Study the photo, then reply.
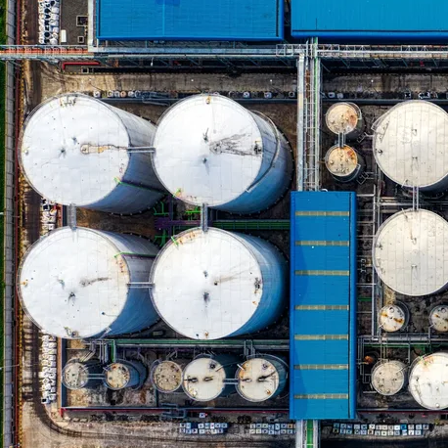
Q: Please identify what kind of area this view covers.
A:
industrial area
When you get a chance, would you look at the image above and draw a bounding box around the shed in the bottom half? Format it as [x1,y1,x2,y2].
[292,191,359,419]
